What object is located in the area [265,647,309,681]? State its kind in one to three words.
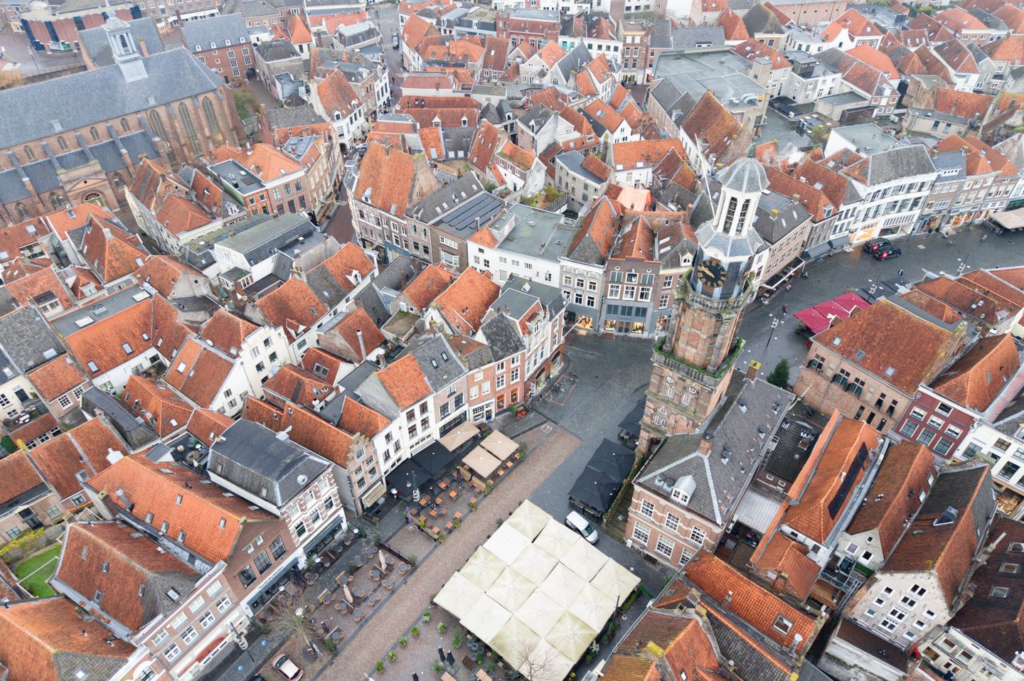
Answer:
car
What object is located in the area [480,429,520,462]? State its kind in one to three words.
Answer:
umbrella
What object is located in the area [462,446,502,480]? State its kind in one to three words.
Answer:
umbrella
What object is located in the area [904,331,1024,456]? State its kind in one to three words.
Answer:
house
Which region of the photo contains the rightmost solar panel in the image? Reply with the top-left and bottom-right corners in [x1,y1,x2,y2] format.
[833,437,870,518]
